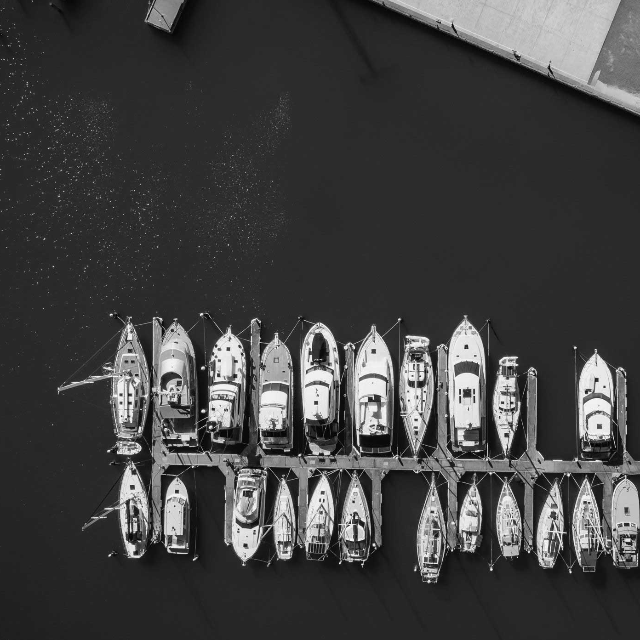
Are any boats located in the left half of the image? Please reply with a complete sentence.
Yes, a boat can be seen in the left half of the image.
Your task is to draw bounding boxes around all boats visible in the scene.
[257,321,299,452]
[259,470,300,560]
[231,467,267,568]
[337,469,372,563]
[164,470,193,555]
[400,340,438,459]
[457,475,485,554]
[572,473,612,573]
[493,473,524,564]
[578,346,618,458]
[81,459,152,558]
[198,314,250,449]
[301,320,346,456]
[447,312,487,459]
[157,317,207,447]
[301,470,336,561]
[612,473,640,568]
[533,474,572,569]
[417,468,448,584]
[492,365,530,459]
[500,356,519,365]
[403,336,430,348]
[355,321,394,456]
[56,317,154,457]
[115,442,141,455]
